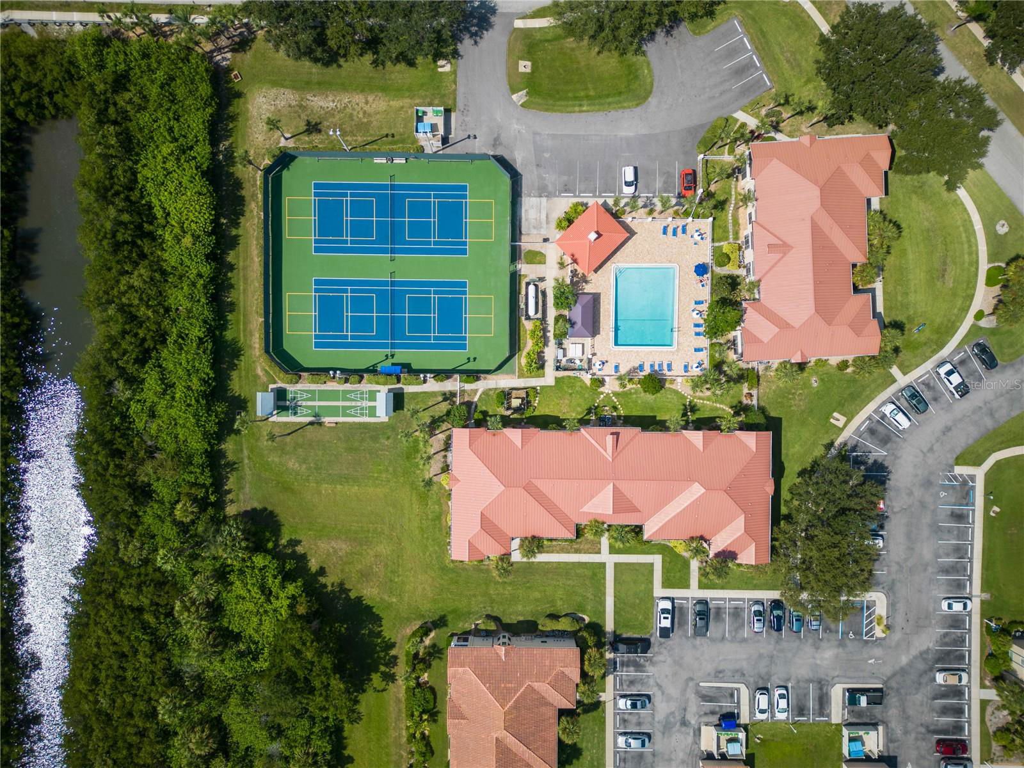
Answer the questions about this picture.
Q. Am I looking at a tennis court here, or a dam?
tennis court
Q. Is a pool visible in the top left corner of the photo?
No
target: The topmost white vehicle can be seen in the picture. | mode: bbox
[623,164,638,194]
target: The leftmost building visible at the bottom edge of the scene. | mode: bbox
[447,635,580,768]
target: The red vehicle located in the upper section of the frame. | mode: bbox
[682,167,697,196]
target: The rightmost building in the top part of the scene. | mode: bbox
[733,133,893,363]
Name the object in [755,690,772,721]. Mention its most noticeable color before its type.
white car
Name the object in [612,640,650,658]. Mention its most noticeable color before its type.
black vehicle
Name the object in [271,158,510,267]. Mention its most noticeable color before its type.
green tennis court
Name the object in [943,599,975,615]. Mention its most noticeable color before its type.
white car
